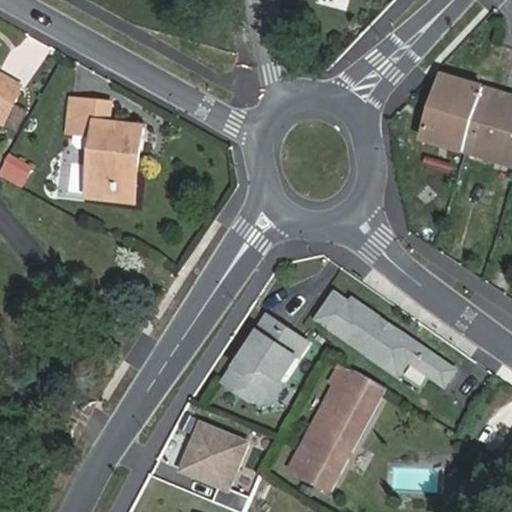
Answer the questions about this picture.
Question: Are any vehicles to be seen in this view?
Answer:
Yes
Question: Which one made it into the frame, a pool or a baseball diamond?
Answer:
pool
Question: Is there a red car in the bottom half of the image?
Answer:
No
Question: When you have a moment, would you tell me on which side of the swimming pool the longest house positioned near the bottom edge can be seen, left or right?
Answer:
to the left of it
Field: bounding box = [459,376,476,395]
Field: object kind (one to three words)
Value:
car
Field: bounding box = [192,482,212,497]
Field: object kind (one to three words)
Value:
car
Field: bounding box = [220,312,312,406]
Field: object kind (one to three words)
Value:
house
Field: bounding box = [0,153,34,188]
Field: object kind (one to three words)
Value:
shed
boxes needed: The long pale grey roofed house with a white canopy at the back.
[313,290,457,389]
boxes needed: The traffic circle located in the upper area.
[242,74,386,248]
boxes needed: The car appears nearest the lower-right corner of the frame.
[477,422,495,444]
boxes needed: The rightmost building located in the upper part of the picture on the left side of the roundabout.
[64,96,148,206]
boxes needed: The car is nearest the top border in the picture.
[30,8,52,25]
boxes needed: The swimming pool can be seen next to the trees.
[388,464,444,497]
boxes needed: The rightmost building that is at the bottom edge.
[288,365,384,492]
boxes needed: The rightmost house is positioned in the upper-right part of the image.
[464,86,512,166]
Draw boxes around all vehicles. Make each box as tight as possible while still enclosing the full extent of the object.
[192,482,212,497]
[477,422,495,444]
[266,288,286,306]
[459,376,476,395]
[286,296,306,315]
[30,8,52,25]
